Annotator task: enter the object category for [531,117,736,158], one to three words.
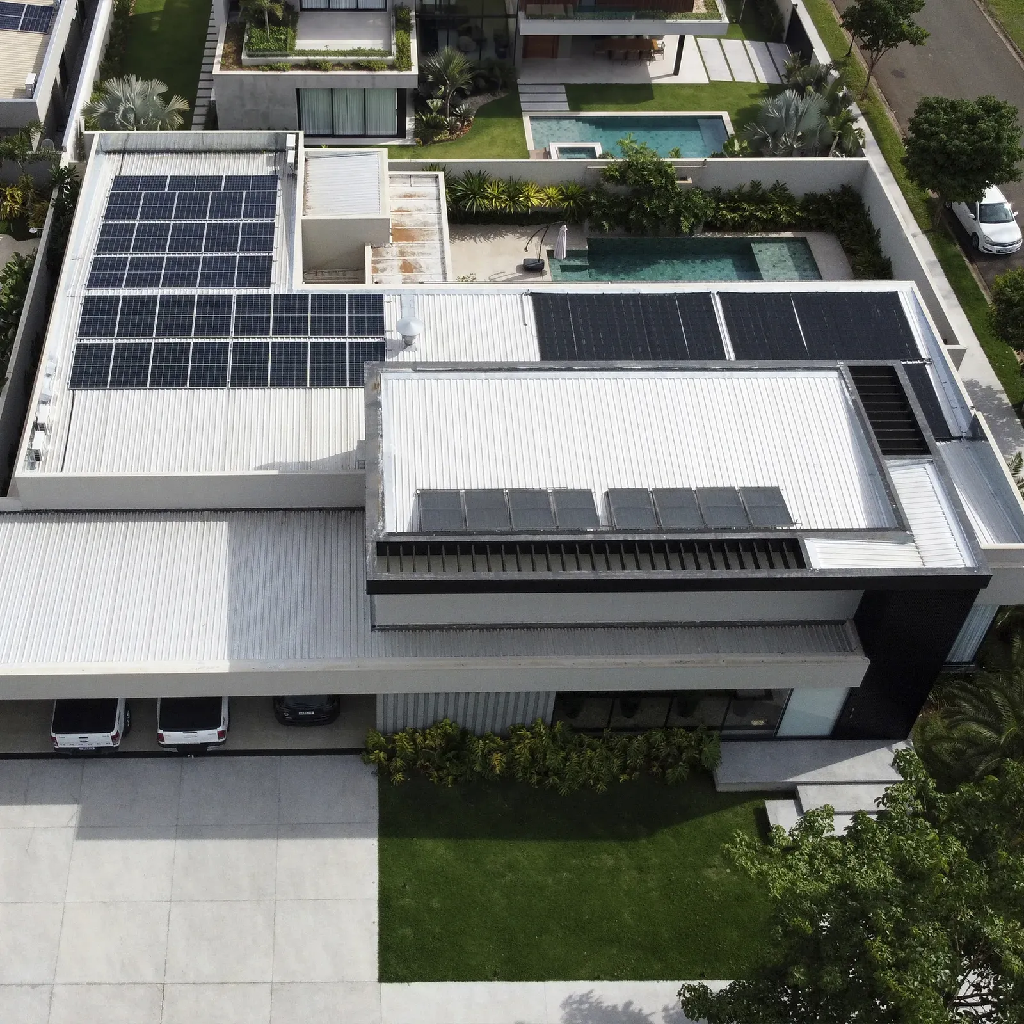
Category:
swimming pool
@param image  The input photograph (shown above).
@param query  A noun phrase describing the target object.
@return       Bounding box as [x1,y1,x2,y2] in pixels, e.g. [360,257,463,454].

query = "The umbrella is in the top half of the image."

[523,218,572,269]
